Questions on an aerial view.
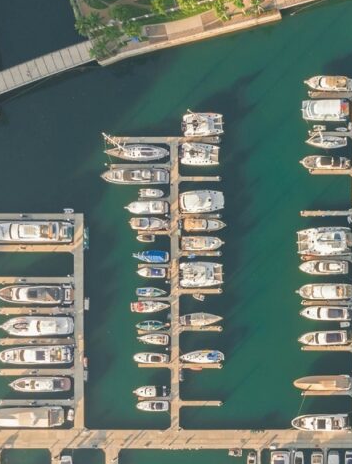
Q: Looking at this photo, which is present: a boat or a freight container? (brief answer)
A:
boat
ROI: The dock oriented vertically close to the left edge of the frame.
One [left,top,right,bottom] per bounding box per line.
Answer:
[0,211,85,430]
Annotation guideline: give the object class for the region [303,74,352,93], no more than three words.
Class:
boat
